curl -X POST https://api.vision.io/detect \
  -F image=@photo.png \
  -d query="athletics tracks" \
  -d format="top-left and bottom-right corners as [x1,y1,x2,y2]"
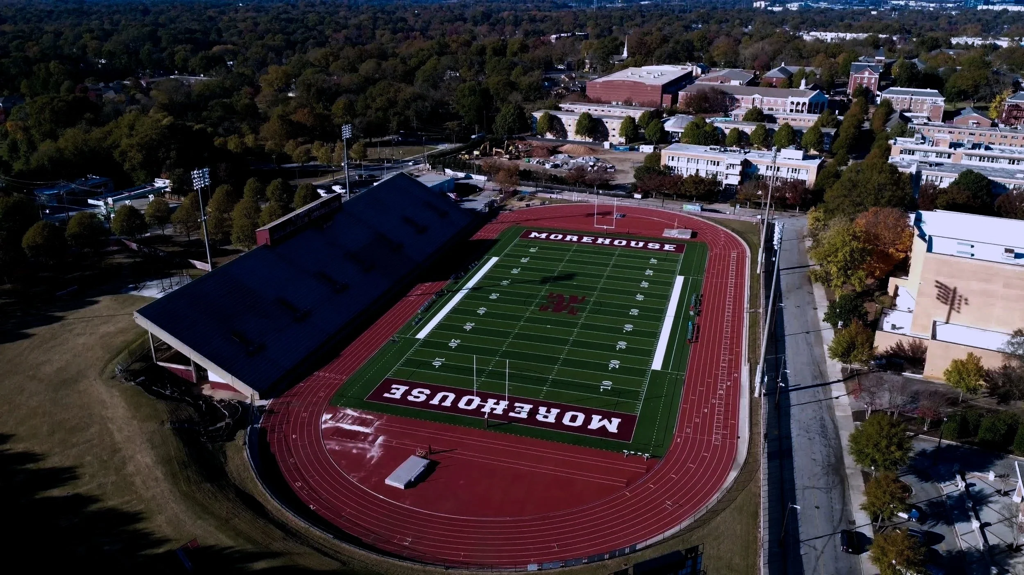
[263,205,747,565]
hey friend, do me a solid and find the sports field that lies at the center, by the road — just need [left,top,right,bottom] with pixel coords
[332,226,707,457]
